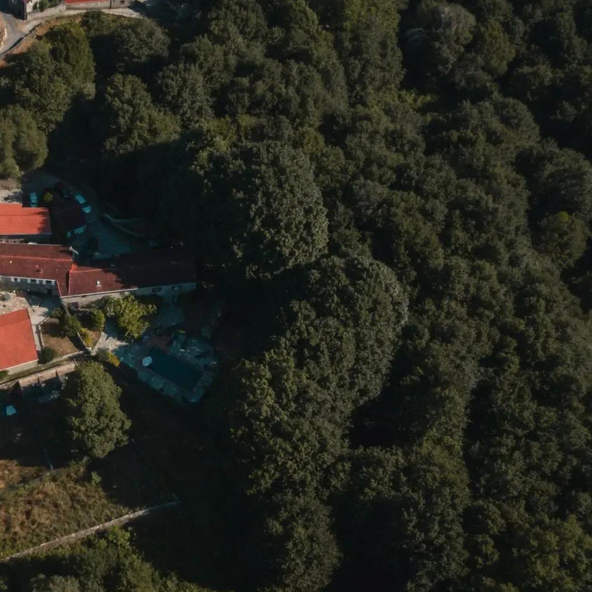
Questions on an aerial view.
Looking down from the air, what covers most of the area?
trees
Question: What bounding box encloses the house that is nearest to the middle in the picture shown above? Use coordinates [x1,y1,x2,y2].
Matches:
[61,248,197,308]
